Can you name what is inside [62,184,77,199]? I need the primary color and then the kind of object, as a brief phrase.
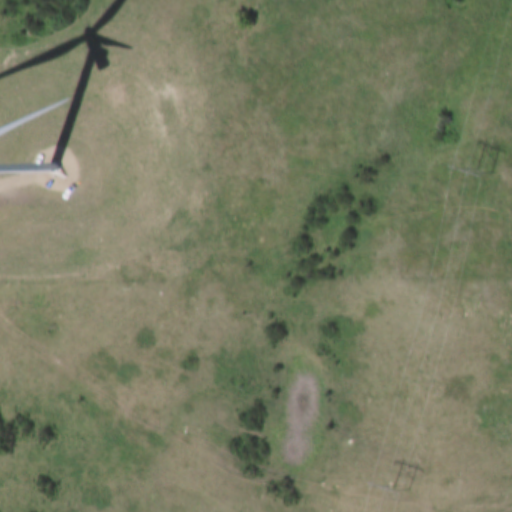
white vehicle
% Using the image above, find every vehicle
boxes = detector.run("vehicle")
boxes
[62,184,77,199]
[34,154,44,164]
[46,179,55,188]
